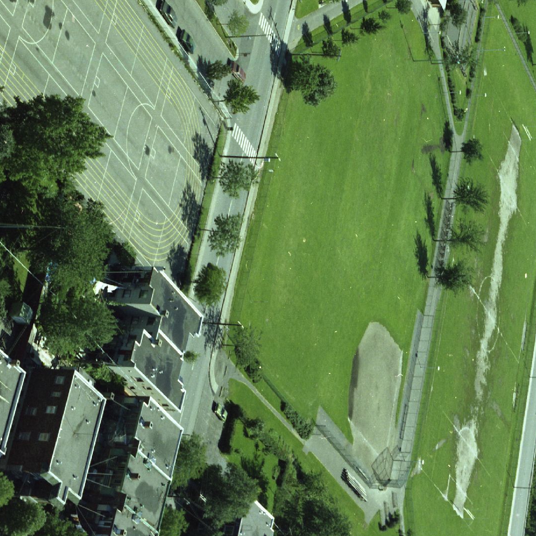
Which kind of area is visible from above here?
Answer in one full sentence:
It's a residential area.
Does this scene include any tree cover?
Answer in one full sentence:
Yes, there's tree cover in this view.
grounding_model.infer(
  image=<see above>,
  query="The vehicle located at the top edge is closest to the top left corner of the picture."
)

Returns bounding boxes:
[163,0,181,30]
